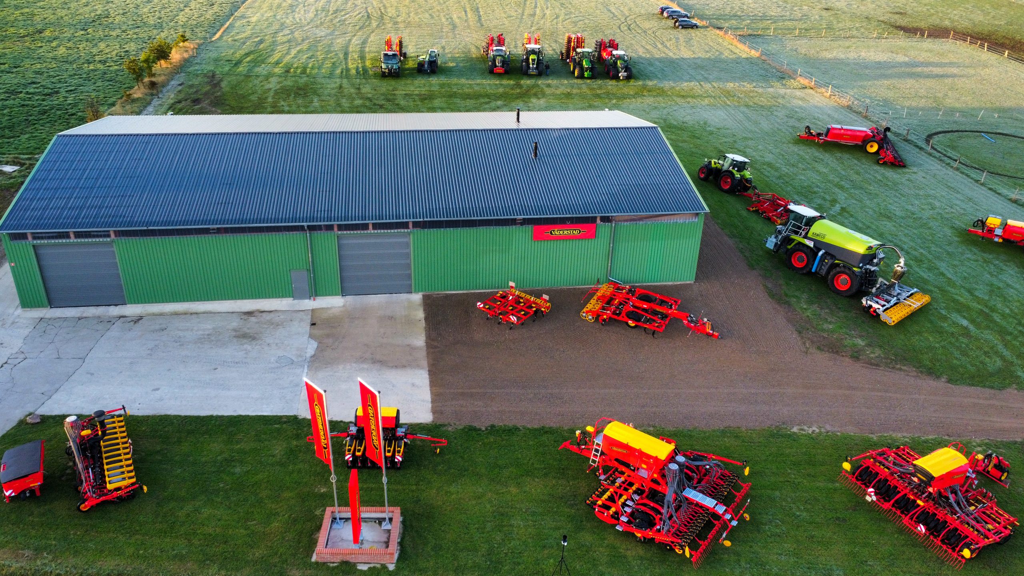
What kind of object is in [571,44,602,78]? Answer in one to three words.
work vehicle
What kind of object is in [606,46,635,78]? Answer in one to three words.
work vehicle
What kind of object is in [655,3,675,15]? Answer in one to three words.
vehicle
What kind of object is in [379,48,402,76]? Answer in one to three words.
truck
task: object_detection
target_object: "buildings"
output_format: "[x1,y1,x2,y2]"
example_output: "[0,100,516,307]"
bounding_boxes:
[0,107,710,310]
